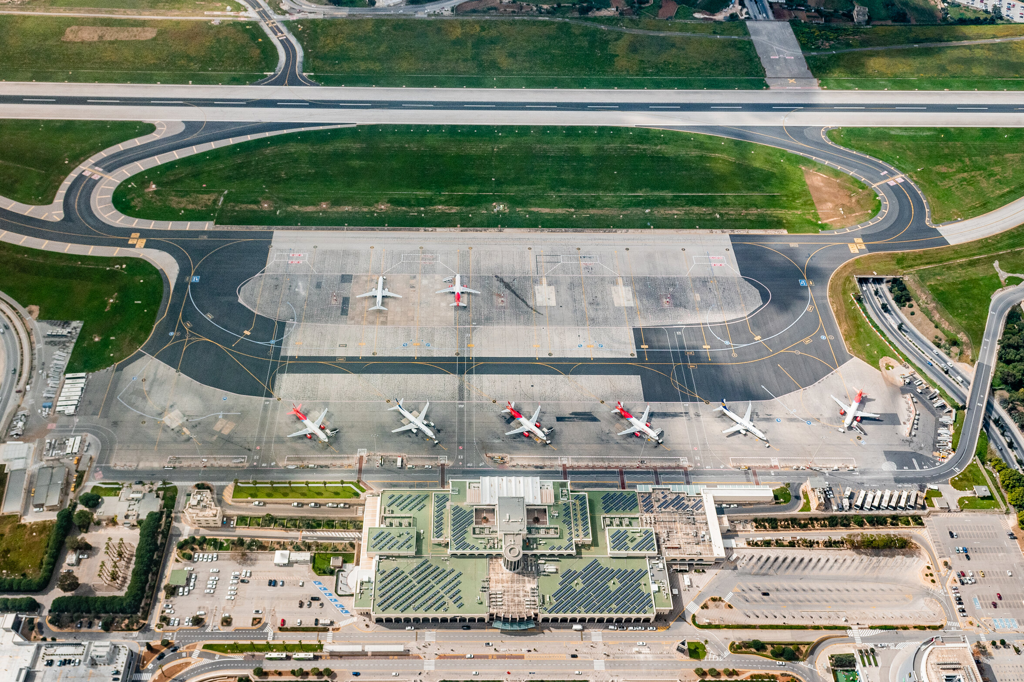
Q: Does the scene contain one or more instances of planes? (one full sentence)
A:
Yes, the picture does show a plane.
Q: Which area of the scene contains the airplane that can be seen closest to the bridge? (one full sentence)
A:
You can find the airplane that can be seen closest to the bridge in the right area of the picture.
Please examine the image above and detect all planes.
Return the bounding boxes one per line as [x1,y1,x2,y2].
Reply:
[285,402,328,442]
[832,386,880,429]
[717,400,768,441]
[356,276,402,310]
[435,274,481,306]
[501,401,547,441]
[613,401,660,441]
[391,400,437,440]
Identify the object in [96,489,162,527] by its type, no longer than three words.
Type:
building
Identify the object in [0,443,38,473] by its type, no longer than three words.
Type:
building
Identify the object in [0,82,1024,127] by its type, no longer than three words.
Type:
runway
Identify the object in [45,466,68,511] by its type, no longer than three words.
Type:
shed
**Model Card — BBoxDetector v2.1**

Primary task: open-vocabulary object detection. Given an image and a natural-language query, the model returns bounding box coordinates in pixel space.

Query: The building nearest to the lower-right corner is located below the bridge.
[909,634,980,682]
